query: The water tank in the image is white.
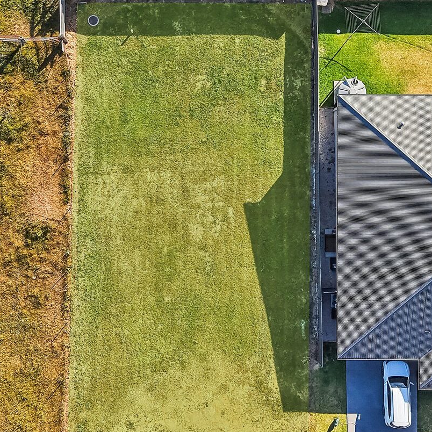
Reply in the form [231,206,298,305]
[323,76,366,108]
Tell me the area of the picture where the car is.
bottom right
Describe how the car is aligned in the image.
from top to bottom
